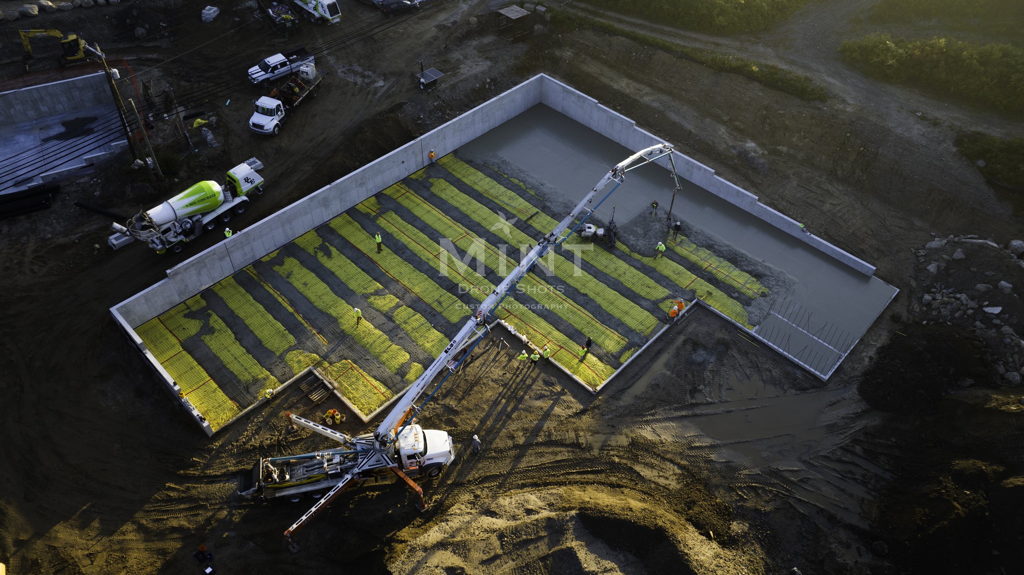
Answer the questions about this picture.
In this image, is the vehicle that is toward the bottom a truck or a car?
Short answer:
truck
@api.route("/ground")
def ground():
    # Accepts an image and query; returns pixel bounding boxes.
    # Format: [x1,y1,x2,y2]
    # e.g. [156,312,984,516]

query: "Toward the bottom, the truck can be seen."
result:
[238,140,679,558]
